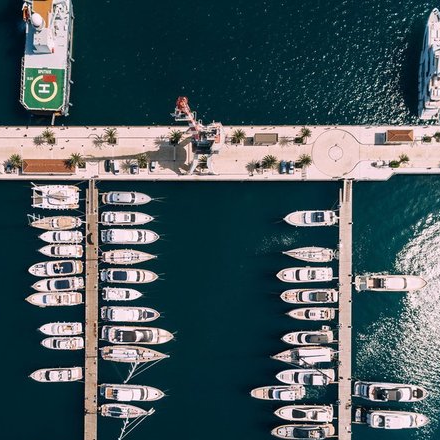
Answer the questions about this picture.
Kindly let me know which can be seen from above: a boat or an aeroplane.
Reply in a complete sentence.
Looking from above, you can make out a boat.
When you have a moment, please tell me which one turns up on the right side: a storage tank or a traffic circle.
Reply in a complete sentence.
Visible on the right side is a traffic circle.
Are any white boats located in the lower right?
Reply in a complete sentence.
Yes, a white boat is visible in the lower right.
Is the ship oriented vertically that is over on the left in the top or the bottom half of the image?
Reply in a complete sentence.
Seen from above, the ship oriented vertically that is over on the left lies in the top half of the view.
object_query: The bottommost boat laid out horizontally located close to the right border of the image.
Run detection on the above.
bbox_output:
[364,409,431,430]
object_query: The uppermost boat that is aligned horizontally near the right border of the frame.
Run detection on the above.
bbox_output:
[347,274,429,292]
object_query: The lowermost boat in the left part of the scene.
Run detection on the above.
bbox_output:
[98,401,165,440]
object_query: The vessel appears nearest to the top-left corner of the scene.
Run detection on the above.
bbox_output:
[20,0,81,128]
